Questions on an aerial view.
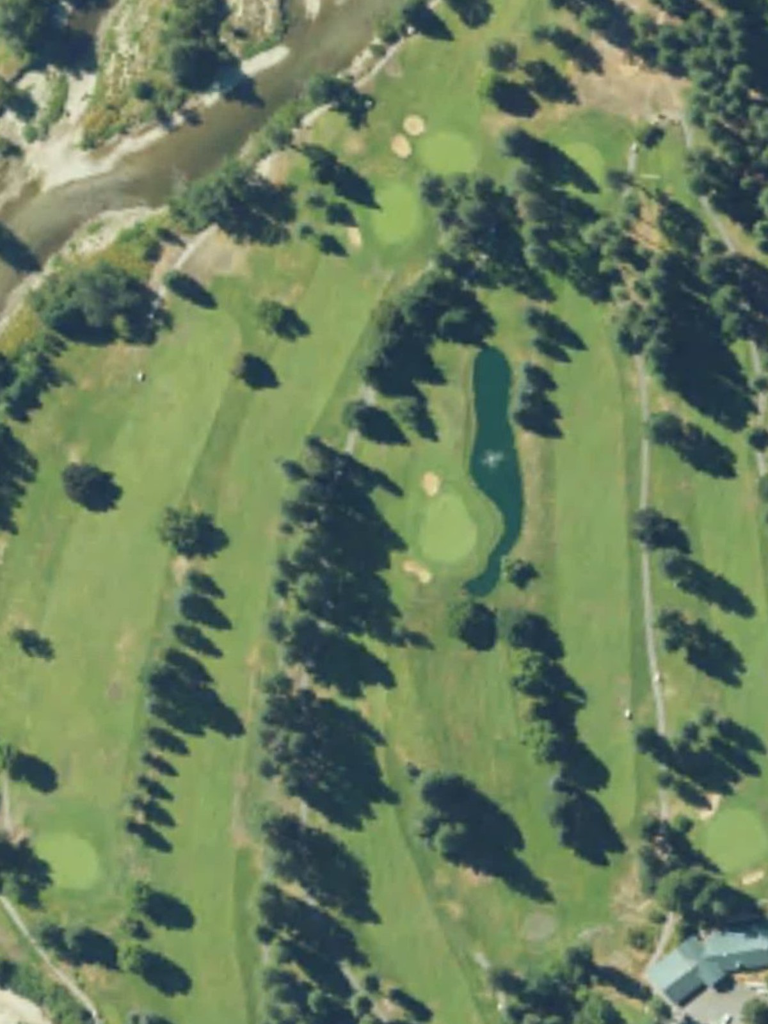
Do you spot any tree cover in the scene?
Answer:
Yes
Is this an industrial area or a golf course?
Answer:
golf course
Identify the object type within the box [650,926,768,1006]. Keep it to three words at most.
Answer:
building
